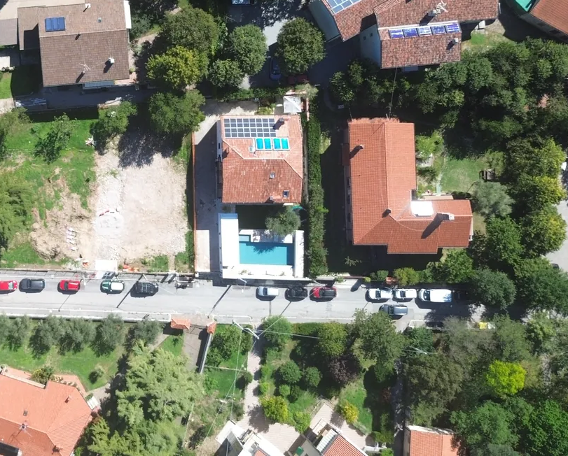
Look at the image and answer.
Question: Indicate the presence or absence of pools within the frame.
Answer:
Yes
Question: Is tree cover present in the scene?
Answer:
Yes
